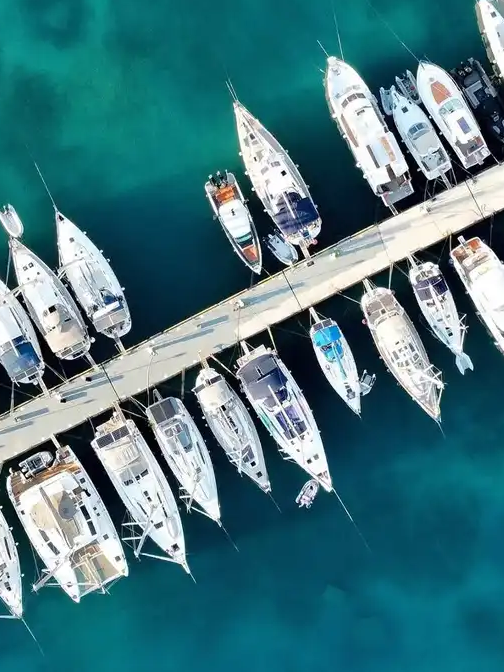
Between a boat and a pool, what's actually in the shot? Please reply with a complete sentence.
It is a boat that can be seen here.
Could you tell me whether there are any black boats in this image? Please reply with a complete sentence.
Yes, looking at the shot, I can spot a black boat.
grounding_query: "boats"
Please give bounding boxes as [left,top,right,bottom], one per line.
[3,428,127,601]
[38,170,155,361]
[227,83,332,261]
[299,307,362,418]
[339,272,445,430]
[262,228,297,271]
[452,350,474,379]
[88,400,192,574]
[129,368,237,550]
[0,279,66,409]
[318,21,420,222]
[387,22,499,178]
[19,451,53,472]
[395,244,473,354]
[204,168,271,293]
[449,52,504,149]
[445,218,504,349]
[360,372,376,394]
[2,235,99,379]
[391,87,457,200]
[0,510,42,653]
[183,351,279,508]
[213,328,369,549]
[293,480,319,508]
[0,200,22,240]
[394,69,421,104]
